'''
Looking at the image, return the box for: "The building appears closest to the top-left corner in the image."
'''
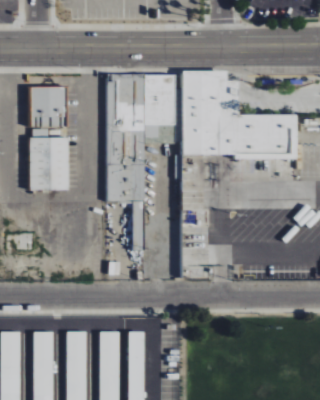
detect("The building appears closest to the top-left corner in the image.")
[28,86,66,126]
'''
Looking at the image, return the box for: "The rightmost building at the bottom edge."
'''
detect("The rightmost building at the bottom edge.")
[127,331,145,400]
